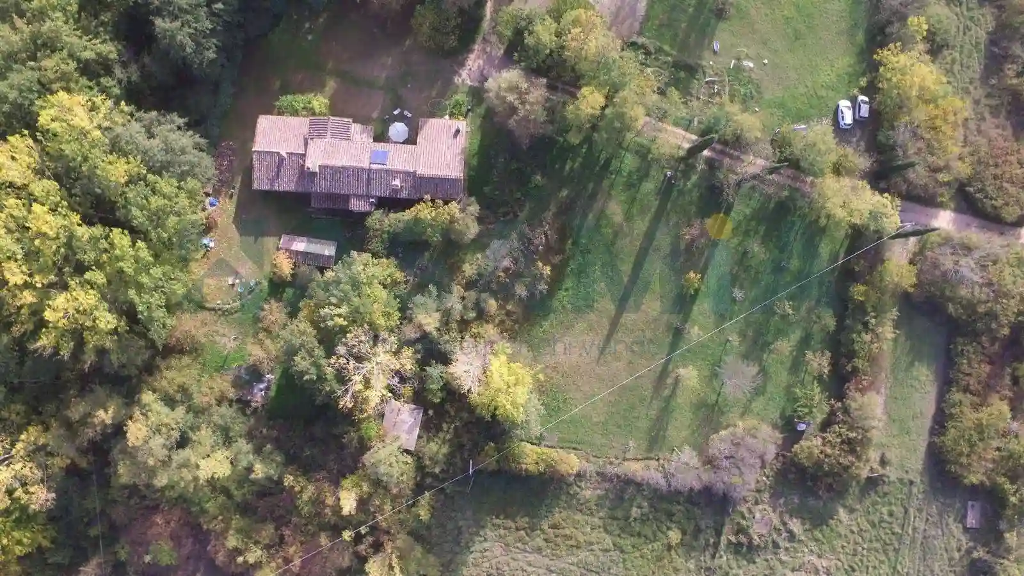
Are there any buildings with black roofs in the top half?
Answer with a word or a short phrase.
No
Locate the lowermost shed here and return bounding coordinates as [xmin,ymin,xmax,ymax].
[381,399,426,450]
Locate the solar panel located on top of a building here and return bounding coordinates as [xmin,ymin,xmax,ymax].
[370,149,389,167]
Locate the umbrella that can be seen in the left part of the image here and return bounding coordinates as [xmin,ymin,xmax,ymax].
[389,123,408,142]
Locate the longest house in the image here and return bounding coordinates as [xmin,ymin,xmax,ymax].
[252,114,468,214]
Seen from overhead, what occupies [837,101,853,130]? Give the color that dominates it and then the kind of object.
white car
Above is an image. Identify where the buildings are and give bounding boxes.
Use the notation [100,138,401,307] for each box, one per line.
[381,399,426,450]
[280,235,339,267]
[252,114,468,214]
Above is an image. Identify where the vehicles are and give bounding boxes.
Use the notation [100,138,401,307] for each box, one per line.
[854,96,869,121]
[837,101,853,130]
